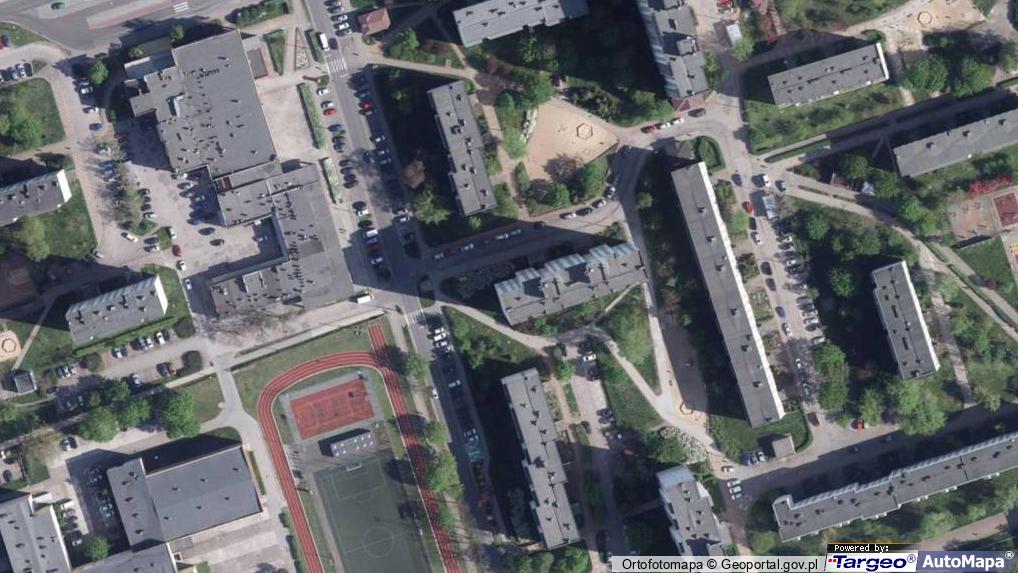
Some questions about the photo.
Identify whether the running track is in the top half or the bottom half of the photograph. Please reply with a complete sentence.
The running track sits in the bottom half of the picture.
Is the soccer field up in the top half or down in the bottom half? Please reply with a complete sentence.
You can find the soccer field in the bottom half.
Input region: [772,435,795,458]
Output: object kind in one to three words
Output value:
shed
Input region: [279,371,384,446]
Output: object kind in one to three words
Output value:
sports court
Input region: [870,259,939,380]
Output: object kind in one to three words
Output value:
building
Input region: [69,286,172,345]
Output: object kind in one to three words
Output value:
building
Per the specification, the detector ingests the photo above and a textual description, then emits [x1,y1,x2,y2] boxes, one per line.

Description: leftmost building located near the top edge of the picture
[130,28,280,177]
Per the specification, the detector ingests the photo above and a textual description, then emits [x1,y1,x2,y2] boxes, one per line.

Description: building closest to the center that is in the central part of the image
[498,242,651,325]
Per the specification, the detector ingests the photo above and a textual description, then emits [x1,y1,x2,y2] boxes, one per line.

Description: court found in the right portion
[992,191,1018,229]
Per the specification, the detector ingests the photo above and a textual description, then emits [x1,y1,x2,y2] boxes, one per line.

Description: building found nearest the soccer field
[330,431,375,457]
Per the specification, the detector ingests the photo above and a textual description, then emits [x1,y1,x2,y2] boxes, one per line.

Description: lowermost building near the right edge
[774,432,1018,541]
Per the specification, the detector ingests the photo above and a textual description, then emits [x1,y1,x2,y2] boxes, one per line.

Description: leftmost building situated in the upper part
[0,170,73,222]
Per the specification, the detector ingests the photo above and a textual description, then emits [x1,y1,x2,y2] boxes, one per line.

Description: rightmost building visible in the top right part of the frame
[893,105,1018,176]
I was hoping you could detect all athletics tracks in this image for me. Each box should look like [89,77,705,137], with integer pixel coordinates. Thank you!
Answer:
[257,323,460,573]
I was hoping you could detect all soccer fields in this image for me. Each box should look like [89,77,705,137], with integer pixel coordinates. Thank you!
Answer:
[315,452,425,573]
